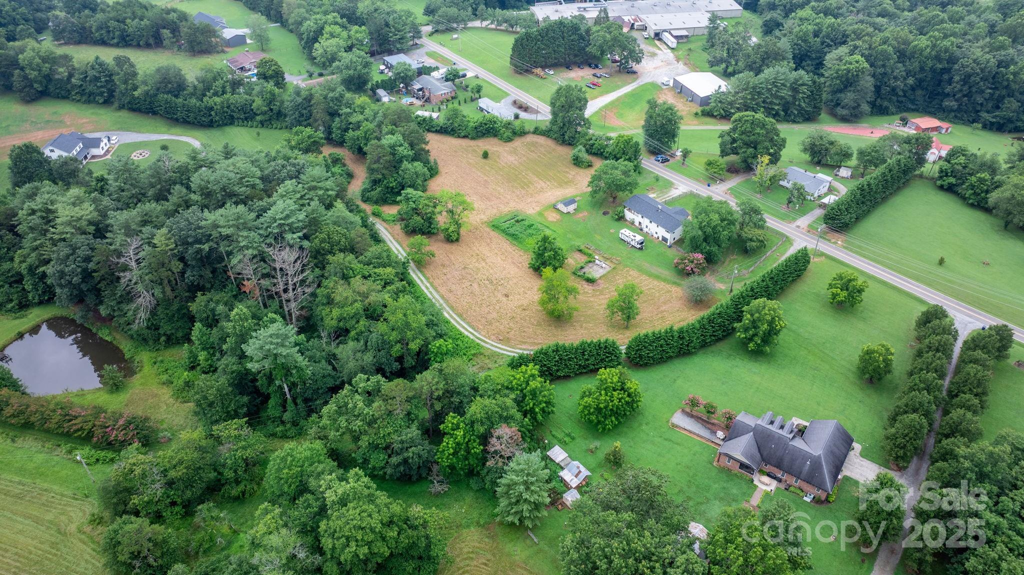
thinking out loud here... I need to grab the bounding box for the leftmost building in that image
[38,132,109,167]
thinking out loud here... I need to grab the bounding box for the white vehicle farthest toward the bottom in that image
[619,229,643,250]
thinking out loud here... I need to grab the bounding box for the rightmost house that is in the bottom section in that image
[718,409,854,500]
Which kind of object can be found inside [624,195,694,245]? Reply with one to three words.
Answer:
house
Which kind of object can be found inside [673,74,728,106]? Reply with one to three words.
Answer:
building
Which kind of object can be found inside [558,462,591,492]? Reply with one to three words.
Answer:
shed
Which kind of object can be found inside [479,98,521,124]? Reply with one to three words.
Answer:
house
